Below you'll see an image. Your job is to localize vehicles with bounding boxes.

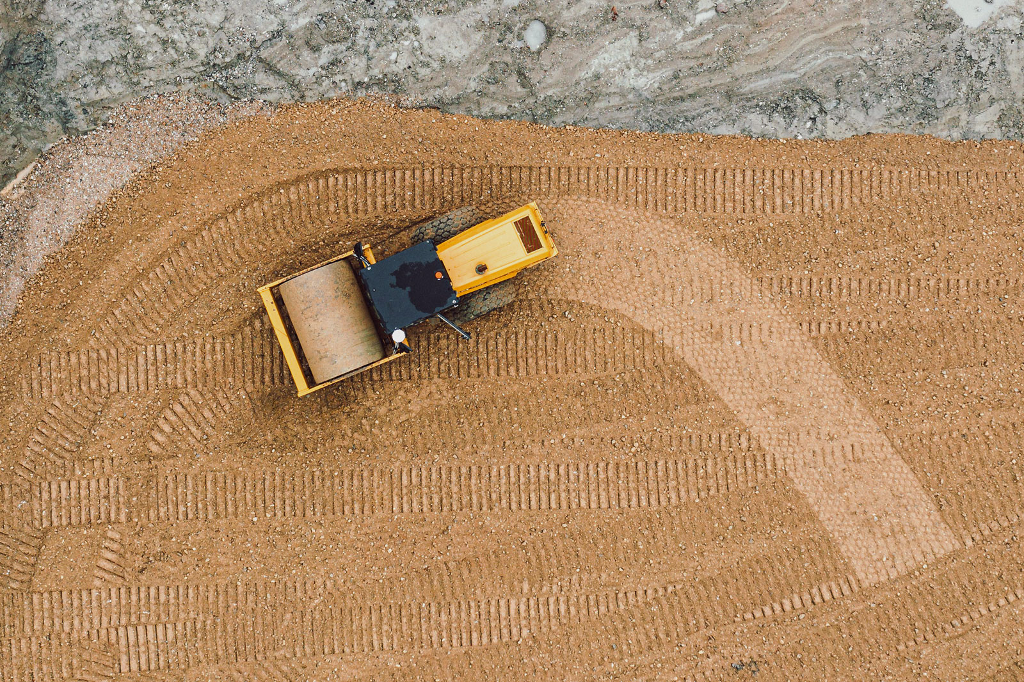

[258,201,559,396]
